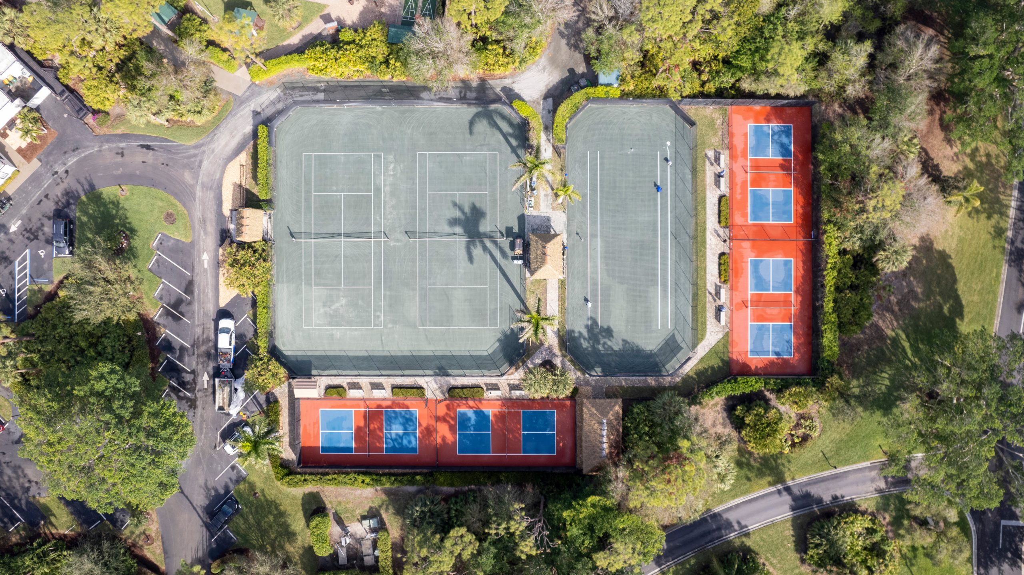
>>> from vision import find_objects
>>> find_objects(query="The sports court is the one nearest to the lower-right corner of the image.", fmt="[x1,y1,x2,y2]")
[730,240,812,375]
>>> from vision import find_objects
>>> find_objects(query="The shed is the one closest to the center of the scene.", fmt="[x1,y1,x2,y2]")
[527,232,565,281]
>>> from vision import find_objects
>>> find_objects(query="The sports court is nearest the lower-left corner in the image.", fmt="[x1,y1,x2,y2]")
[300,399,436,466]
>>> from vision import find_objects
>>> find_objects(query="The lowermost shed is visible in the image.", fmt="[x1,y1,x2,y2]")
[581,397,624,476]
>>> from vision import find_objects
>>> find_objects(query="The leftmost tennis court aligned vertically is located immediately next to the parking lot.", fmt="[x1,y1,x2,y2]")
[275,106,400,375]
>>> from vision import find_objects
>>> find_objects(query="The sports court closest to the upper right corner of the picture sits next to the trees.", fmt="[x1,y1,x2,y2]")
[730,106,812,240]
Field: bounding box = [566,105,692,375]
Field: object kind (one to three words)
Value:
tennis court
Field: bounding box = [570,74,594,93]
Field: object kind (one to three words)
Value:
vehicle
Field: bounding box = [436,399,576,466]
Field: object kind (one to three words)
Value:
sports court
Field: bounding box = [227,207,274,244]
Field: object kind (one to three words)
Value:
shed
